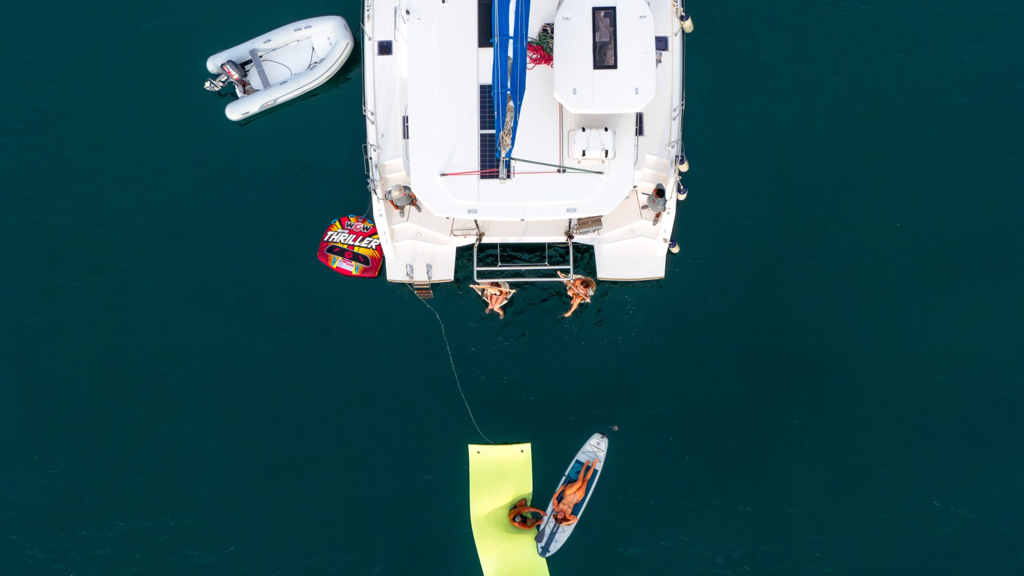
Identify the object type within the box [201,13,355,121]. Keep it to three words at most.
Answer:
boat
